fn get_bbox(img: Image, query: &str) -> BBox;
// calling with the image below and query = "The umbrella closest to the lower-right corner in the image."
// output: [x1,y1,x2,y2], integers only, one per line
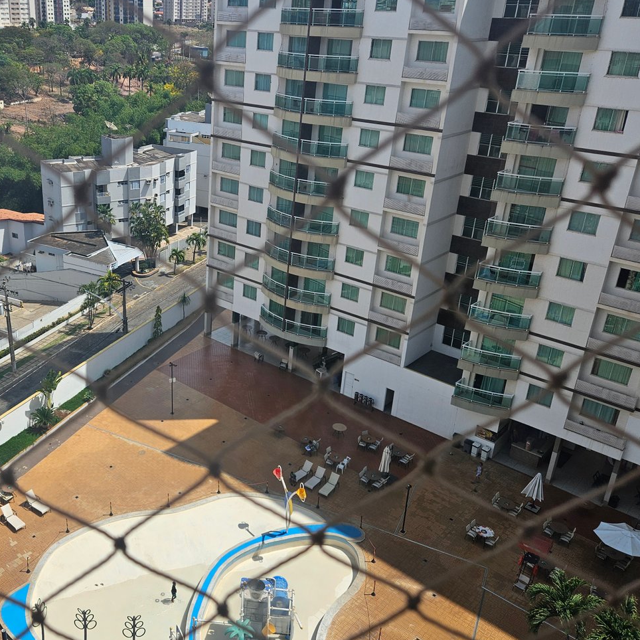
[590,522,640,575]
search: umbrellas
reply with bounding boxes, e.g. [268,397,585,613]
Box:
[525,472,545,514]
[378,443,394,481]
[590,522,640,575]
